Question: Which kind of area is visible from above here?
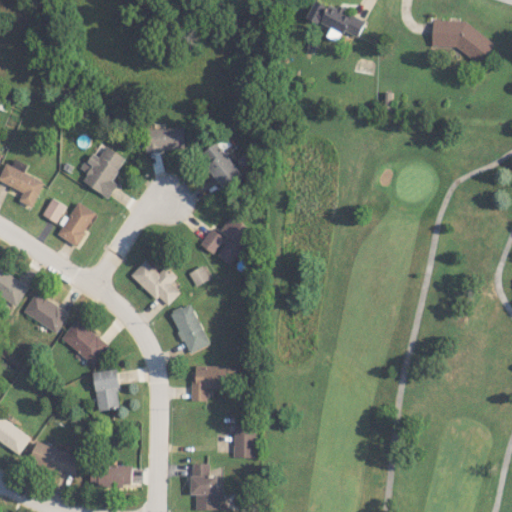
golf course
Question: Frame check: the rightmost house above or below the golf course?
above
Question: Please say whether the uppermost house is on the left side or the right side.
right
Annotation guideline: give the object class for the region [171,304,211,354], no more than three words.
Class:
house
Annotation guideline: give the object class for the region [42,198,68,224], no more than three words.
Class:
building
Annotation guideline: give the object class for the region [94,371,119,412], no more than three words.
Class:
house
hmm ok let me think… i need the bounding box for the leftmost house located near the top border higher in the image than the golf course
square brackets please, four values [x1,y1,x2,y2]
[306,2,365,36]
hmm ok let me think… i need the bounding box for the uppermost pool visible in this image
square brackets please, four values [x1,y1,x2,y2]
[78,135,94,150]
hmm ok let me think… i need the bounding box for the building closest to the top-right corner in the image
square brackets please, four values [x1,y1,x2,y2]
[432,20,494,63]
